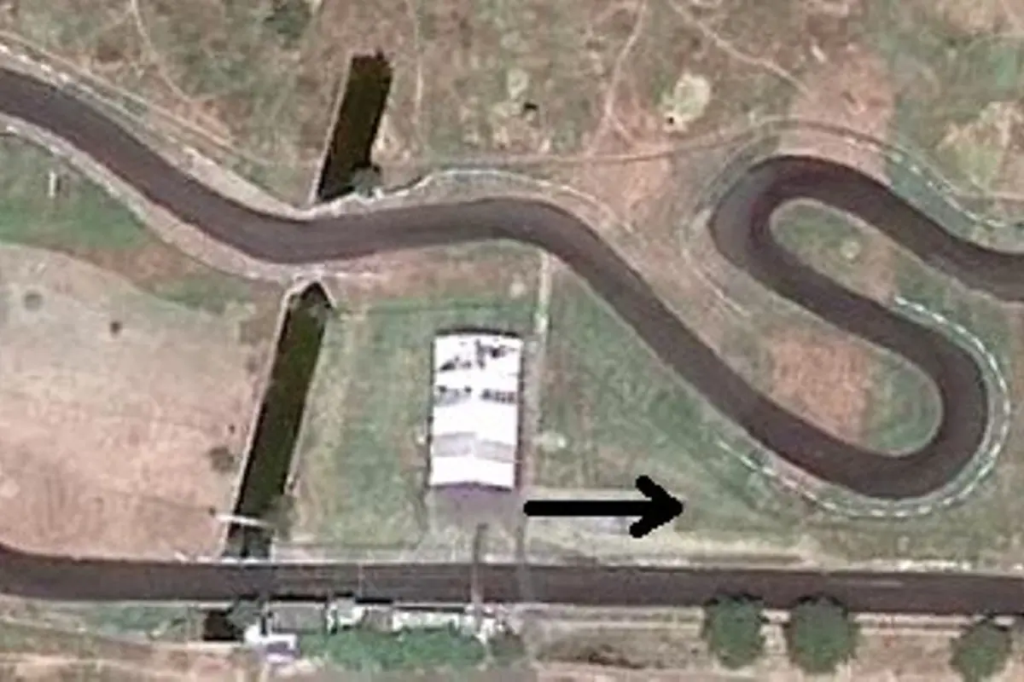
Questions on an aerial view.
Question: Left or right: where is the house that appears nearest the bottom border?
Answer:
left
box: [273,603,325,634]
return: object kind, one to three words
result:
shed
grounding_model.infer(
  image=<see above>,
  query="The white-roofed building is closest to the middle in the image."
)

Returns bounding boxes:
[428,336,523,491]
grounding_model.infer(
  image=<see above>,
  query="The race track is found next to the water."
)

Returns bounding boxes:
[0,66,1024,499]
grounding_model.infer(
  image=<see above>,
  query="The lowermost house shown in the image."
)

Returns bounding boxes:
[257,634,298,663]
